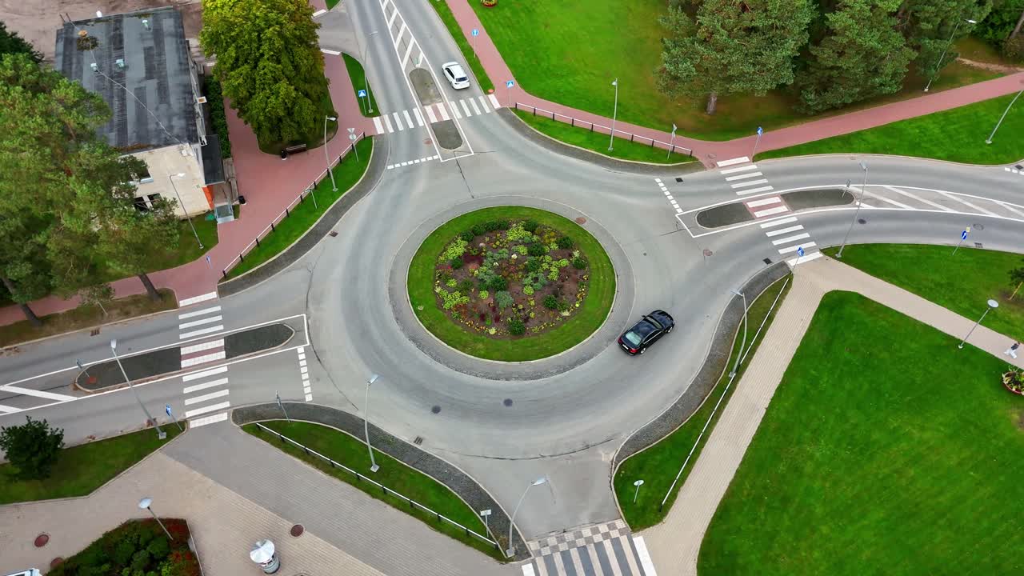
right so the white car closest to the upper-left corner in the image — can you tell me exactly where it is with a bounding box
[443,61,470,89]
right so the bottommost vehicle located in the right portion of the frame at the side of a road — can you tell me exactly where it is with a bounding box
[618,308,677,356]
